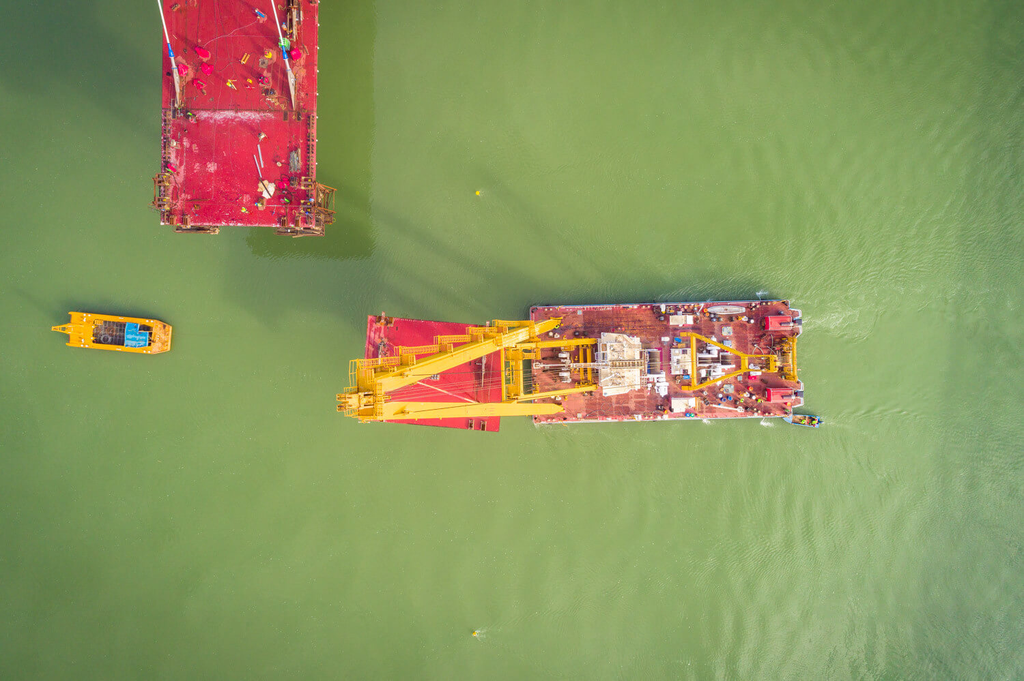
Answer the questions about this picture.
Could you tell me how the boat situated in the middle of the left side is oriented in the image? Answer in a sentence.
Seen from above, the boat situated in the middle of the left side lies from side to side.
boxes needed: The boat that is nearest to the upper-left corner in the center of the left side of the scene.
[51,311,174,355]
